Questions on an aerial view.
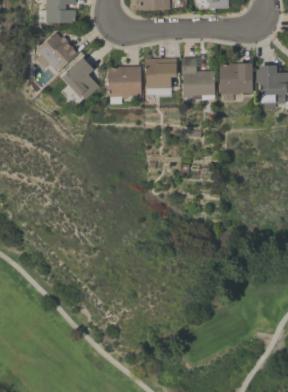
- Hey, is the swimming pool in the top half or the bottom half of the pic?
top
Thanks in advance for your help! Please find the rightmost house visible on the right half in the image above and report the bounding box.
[256,66,288,108]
